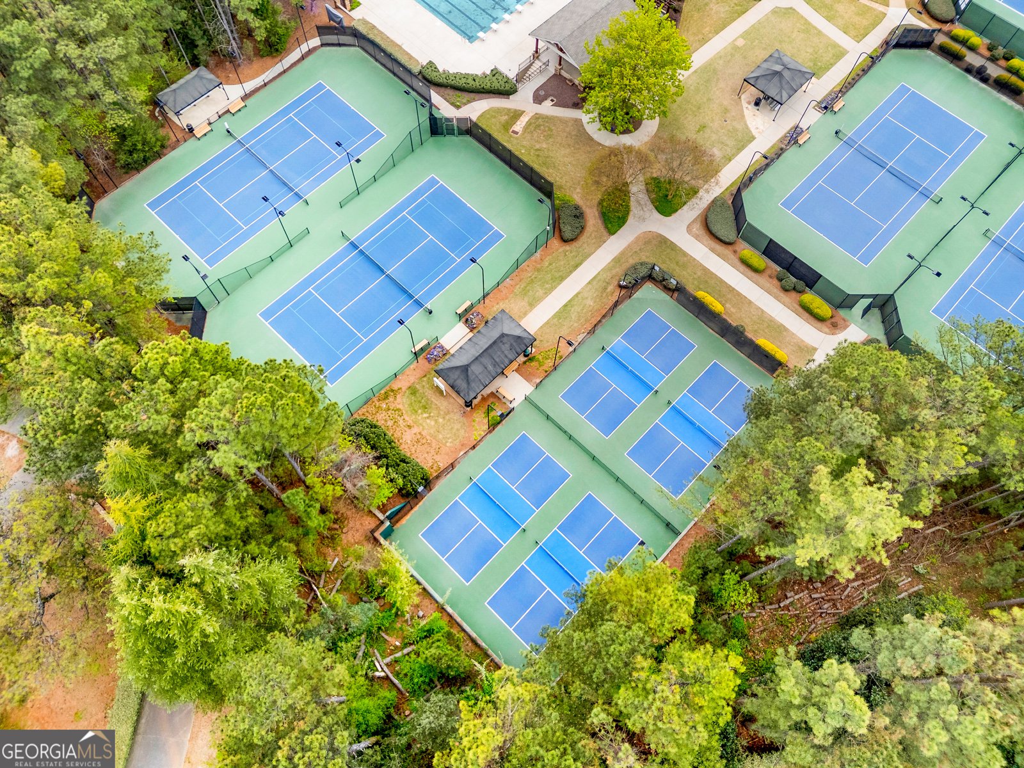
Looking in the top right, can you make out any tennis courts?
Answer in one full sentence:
Yes, there is a tennis court in the top right.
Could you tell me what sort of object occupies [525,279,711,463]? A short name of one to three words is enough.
sports court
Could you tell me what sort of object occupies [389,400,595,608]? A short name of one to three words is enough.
sports court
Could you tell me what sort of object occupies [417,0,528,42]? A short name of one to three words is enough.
swimming pool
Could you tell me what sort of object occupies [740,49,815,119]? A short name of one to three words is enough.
gazebo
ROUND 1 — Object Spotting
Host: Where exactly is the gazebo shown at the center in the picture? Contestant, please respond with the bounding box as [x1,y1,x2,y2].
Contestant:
[434,309,536,404]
